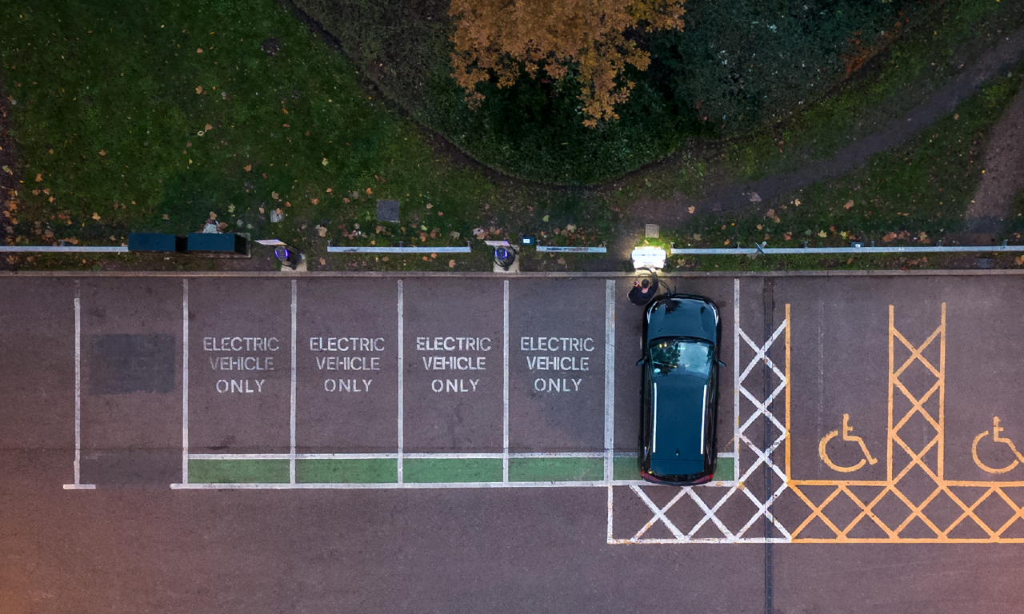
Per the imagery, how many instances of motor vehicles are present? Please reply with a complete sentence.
The count comes to 1 motor vehicle.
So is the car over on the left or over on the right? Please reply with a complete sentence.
You can find the car on the right side of the picture.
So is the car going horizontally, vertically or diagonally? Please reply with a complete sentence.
The car is oriented vertically.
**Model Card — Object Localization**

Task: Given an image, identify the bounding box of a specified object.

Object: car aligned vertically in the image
[631,284,731,487]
